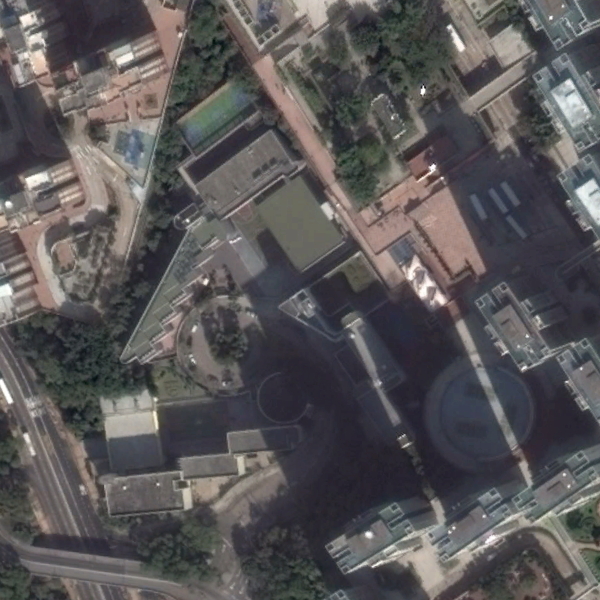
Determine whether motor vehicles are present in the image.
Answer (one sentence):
Yes, there is a motor vehicle in the image.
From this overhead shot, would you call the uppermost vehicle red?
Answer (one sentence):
No, the uppermost vehicle is actually white.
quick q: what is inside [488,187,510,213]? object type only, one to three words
bus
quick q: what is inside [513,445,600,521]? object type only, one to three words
building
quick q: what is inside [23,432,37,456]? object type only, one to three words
vehicle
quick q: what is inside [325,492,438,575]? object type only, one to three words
building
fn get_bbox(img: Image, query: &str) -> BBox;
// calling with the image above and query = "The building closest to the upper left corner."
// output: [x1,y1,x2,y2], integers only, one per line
[0,0,78,86]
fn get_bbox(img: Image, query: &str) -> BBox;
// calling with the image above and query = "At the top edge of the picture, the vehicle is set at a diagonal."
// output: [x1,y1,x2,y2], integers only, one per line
[446,25,466,52]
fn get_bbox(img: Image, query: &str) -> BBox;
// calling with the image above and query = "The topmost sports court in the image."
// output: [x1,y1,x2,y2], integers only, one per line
[175,77,259,153]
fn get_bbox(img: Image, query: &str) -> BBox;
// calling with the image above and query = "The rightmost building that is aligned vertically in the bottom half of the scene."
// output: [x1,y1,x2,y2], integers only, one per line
[557,333,600,427]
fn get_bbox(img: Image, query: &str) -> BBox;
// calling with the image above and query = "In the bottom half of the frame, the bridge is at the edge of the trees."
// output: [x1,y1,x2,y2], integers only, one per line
[0,527,227,600]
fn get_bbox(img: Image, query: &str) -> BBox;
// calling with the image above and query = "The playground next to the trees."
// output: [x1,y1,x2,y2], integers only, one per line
[113,128,154,178]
